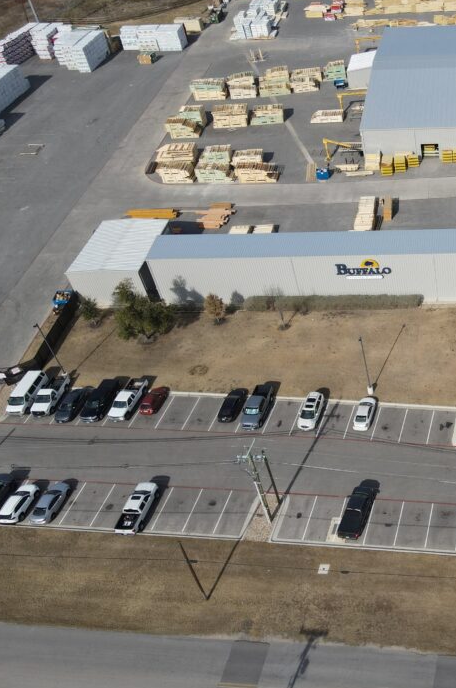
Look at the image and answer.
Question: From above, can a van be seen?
Yes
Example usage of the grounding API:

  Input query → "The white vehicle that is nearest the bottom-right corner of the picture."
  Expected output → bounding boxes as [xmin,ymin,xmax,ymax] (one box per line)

[353,394,379,431]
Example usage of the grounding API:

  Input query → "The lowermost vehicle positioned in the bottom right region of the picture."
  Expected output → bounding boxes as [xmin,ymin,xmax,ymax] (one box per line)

[337,484,374,540]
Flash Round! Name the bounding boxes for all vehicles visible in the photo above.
[298,393,326,431]
[0,480,46,524]
[78,379,123,422]
[5,368,54,415]
[218,386,249,422]
[137,381,173,415]
[241,387,276,431]
[30,374,76,417]
[0,474,27,511]
[54,386,93,423]
[110,480,162,535]
[29,479,76,525]
[337,484,374,540]
[353,394,379,431]
[106,377,149,420]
